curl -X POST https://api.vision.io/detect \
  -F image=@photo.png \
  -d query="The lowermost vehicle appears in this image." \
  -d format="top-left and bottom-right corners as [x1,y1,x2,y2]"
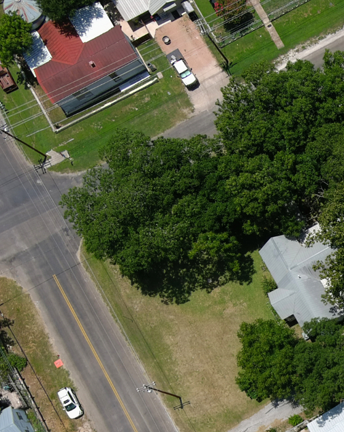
[58,386,83,419]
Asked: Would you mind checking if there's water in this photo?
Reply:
No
